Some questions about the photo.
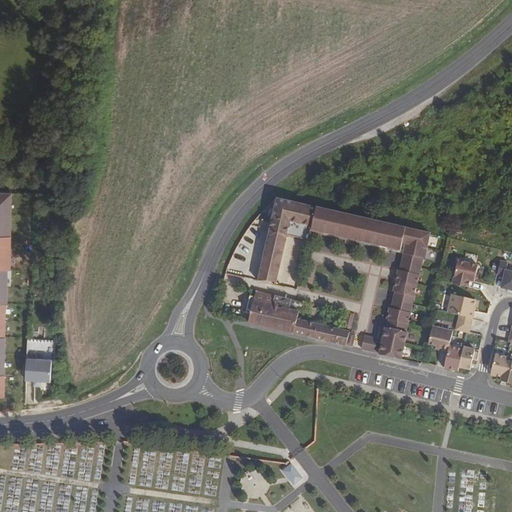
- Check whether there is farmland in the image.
Yes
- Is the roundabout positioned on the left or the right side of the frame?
left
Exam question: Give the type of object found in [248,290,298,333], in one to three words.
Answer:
house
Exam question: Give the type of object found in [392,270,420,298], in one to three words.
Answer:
house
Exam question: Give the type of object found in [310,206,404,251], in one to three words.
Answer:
building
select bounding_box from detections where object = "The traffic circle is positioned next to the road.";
[135,328,221,409]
